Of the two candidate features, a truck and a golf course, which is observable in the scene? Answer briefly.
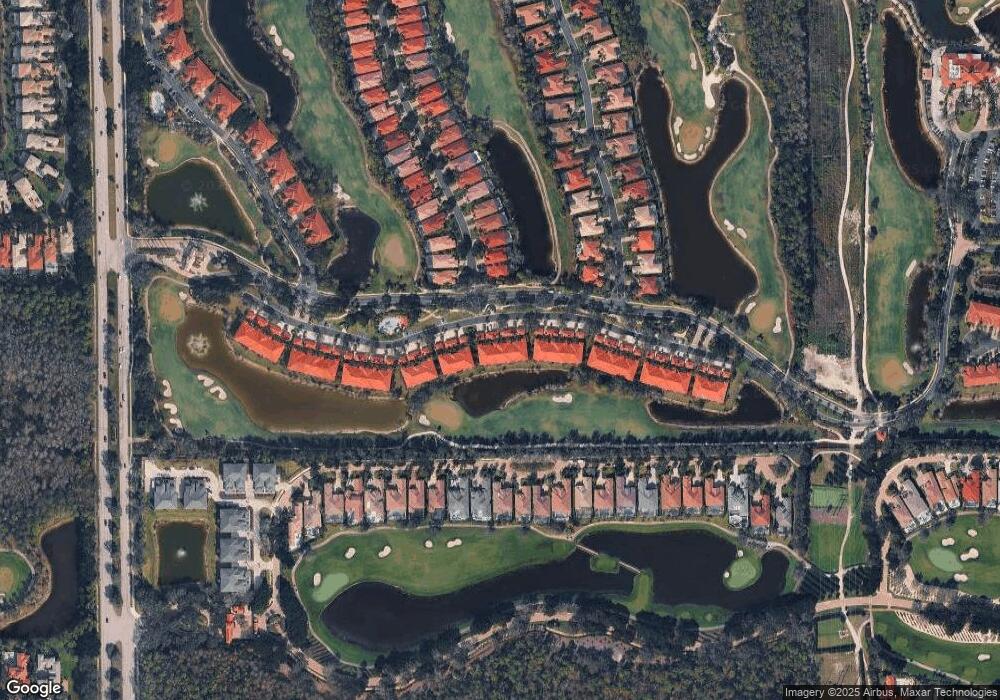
golf course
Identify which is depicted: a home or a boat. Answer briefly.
home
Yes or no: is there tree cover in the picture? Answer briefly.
Yes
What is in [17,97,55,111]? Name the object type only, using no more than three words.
house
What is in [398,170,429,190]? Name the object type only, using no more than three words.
house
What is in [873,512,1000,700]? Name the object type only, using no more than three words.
golf course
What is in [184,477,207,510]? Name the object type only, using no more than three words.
building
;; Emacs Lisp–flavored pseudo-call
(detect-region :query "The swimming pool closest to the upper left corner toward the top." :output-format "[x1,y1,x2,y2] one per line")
[149,94,165,113]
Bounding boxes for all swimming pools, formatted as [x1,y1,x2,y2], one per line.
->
[149,94,165,113]
[378,315,401,335]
